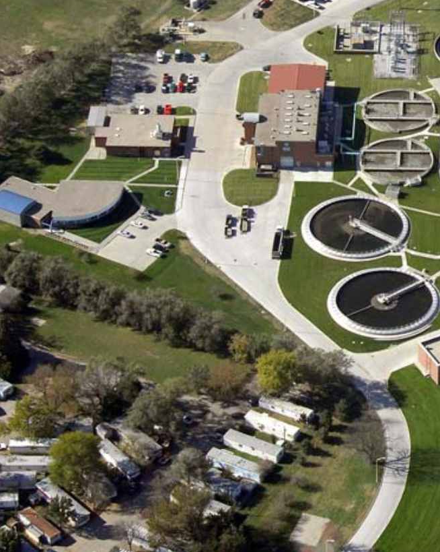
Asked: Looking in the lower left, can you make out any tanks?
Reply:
No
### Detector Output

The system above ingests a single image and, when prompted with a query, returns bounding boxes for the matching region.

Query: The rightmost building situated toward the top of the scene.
[254,64,334,178]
